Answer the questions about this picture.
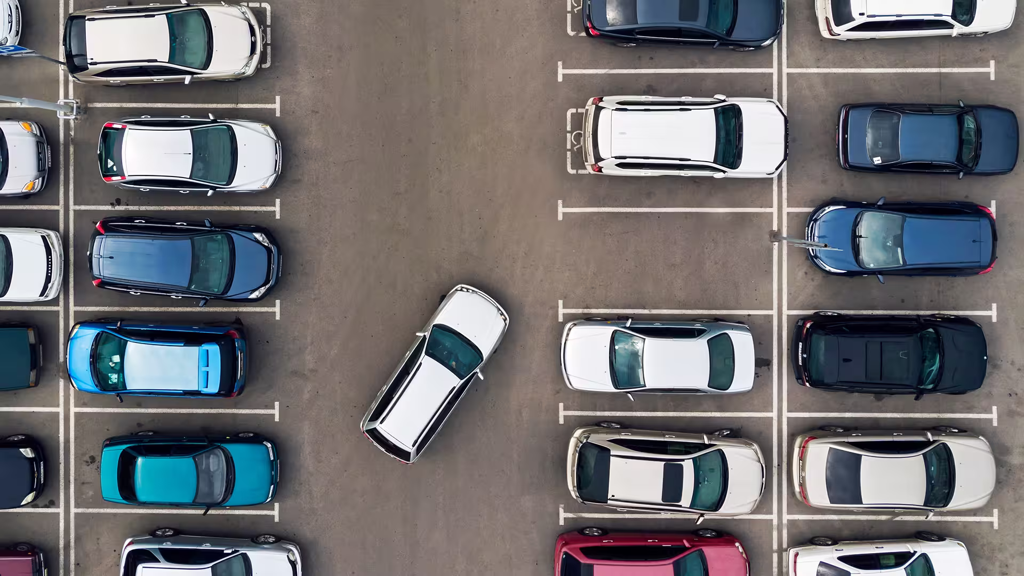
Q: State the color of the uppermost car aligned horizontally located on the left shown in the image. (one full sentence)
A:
The uppermost car aligned horizontally located on the left looks white in the image.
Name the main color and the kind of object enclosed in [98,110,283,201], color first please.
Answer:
white car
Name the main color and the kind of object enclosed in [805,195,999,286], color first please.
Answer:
blue car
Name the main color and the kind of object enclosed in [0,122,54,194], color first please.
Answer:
white car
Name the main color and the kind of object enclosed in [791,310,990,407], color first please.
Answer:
black car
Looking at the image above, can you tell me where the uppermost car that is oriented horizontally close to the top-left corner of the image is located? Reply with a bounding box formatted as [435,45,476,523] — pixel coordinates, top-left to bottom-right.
[61,0,264,91]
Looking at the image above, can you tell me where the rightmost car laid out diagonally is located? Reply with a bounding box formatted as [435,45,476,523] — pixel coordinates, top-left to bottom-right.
[361,286,508,464]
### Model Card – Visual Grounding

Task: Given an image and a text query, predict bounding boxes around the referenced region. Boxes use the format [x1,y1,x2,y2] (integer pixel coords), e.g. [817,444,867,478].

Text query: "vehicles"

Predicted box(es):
[0,545,48,576]
[582,0,784,52]
[0,122,54,194]
[0,320,43,392]
[120,526,302,576]
[61,0,264,91]
[583,86,789,184]
[835,94,1019,182]
[100,427,279,518]
[87,217,283,309]
[791,310,990,407]
[787,532,973,576]
[0,429,47,509]
[0,0,26,44]
[791,424,995,522]
[0,226,66,302]
[67,316,249,408]
[561,314,754,405]
[568,421,765,527]
[98,110,283,201]
[555,524,750,576]
[814,0,1016,42]
[805,195,999,286]
[361,286,508,464]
